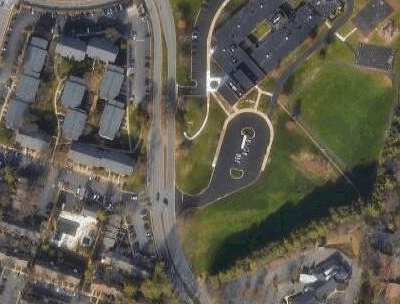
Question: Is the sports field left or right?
right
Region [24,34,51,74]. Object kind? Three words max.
building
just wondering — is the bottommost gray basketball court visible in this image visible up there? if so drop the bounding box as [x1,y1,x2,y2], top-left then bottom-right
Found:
[357,43,395,71]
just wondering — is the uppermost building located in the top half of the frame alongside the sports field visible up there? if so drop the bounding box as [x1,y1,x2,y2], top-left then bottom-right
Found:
[207,0,334,106]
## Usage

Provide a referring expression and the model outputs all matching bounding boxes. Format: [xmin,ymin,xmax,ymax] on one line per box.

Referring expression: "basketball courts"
[353,0,394,35]
[357,43,395,71]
